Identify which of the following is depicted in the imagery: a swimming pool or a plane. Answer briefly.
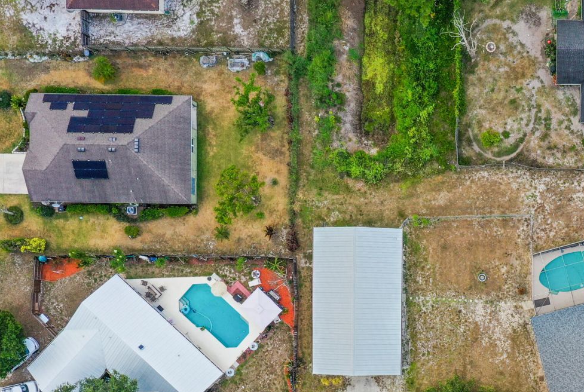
swimming pool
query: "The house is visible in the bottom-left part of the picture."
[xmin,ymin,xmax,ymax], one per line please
[27,274,225,392]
